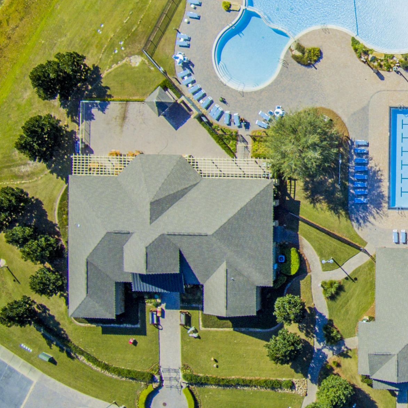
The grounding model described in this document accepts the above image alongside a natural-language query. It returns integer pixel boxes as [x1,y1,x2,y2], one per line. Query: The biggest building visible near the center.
[69,154,280,318]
